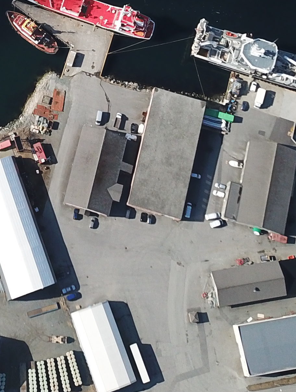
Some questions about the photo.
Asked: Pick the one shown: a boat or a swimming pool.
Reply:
boat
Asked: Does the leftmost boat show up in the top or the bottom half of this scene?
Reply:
top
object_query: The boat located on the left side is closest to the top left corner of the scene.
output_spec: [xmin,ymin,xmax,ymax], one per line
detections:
[5,10,59,54]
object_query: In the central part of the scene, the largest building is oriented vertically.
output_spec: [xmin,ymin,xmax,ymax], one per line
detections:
[124,88,206,222]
